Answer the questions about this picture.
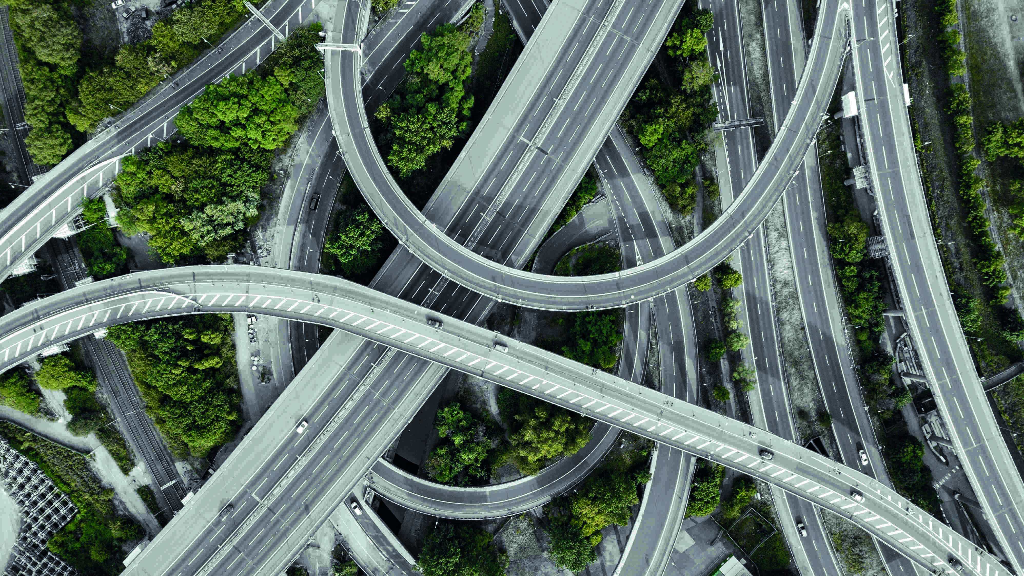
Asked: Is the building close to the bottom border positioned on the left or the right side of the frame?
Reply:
right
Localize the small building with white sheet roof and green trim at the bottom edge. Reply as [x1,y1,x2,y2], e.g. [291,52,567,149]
[710,548,752,576]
